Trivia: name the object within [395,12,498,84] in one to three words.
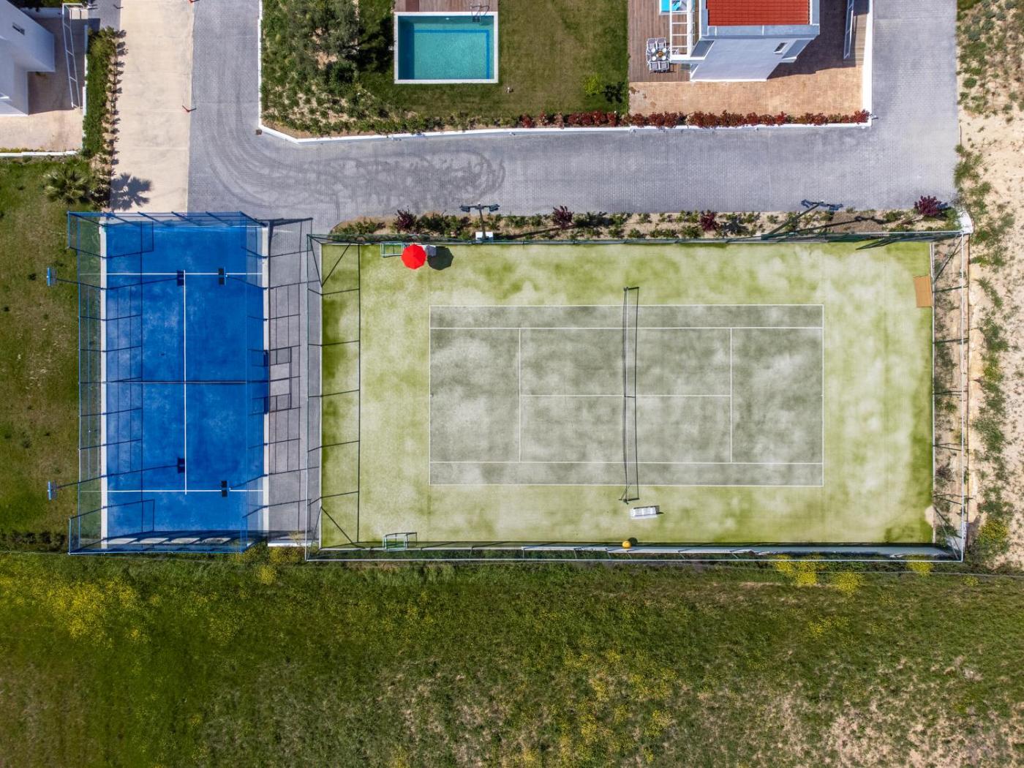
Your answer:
swimming pool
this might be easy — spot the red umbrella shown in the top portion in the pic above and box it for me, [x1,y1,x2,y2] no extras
[402,243,427,269]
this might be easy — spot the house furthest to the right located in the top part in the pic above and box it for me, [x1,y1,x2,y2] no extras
[688,0,819,80]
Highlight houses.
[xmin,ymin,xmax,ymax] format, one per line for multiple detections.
[688,0,819,80]
[0,0,55,115]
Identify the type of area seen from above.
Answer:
sports ground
